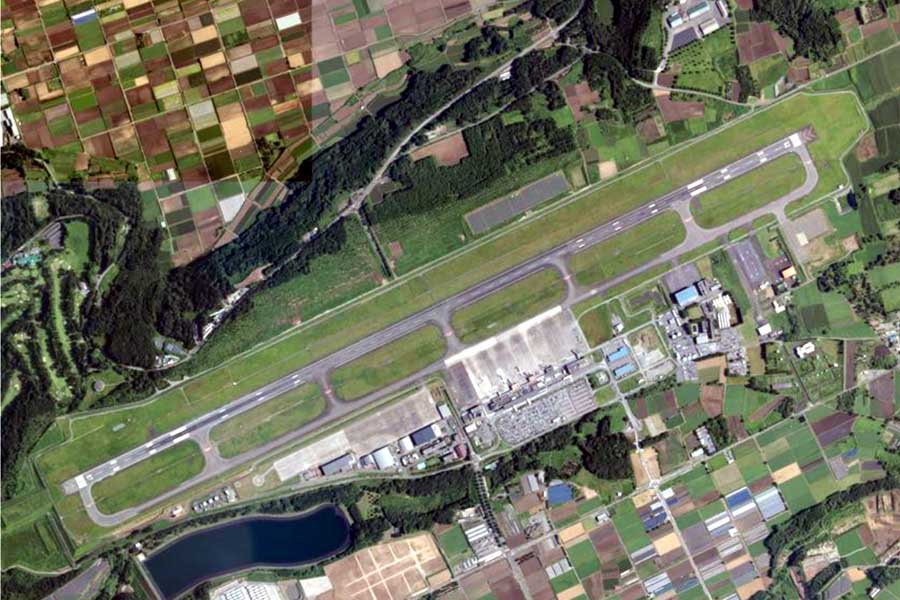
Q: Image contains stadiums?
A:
No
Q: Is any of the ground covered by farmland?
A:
Yes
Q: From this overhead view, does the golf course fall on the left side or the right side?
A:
left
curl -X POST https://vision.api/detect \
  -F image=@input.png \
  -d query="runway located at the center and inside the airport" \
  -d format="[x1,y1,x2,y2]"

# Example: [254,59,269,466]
[61,126,816,495]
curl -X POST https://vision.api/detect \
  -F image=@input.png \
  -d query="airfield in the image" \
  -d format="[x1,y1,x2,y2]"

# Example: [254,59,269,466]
[37,91,868,555]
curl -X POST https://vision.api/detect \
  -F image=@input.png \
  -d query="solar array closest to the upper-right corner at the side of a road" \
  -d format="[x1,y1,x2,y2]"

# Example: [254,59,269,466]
[463,169,570,234]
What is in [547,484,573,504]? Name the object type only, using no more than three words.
building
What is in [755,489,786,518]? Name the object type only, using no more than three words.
greenhouse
